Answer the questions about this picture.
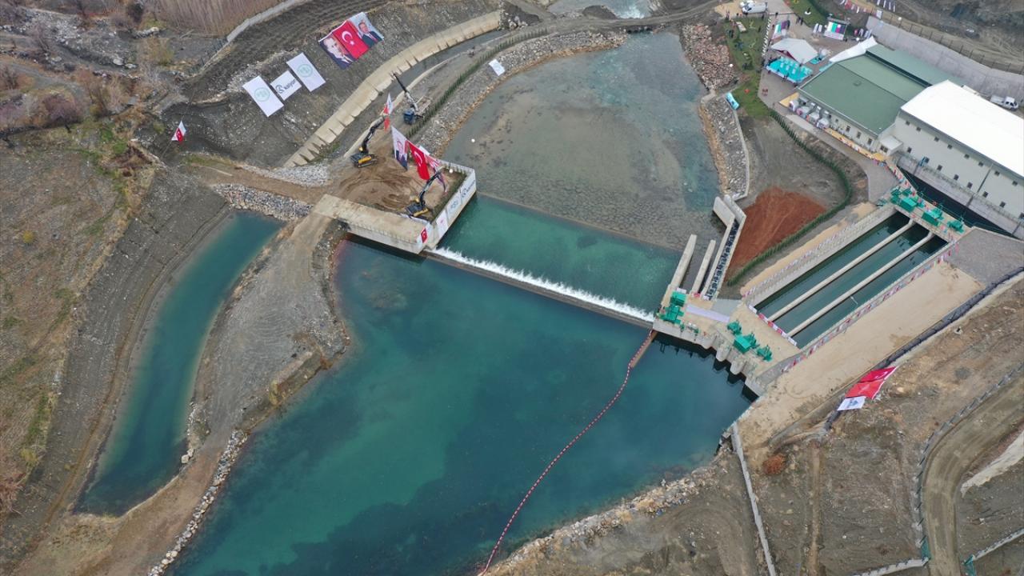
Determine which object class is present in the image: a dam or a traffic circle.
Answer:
dam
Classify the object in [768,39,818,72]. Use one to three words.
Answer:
tent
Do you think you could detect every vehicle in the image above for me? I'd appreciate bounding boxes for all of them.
[394,74,437,119]
[405,164,451,219]
[740,0,771,12]
[356,117,394,168]
[990,93,1023,111]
